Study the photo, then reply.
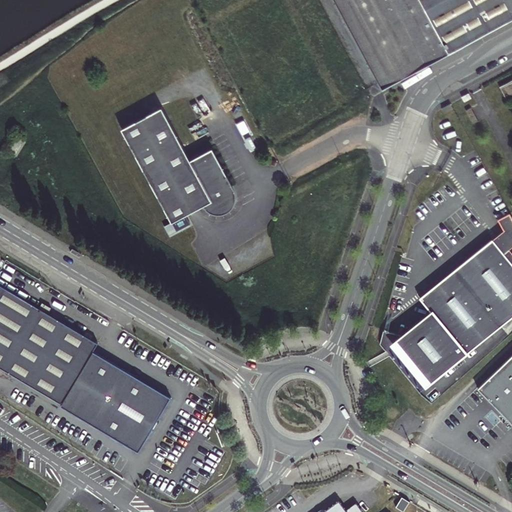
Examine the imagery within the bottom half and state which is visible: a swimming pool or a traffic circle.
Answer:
traffic circle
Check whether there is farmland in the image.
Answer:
No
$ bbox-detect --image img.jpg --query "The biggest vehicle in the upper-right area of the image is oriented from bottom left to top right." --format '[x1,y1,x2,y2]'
[403,68,431,88]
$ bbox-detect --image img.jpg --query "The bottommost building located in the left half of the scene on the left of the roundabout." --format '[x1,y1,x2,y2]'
[61,354,170,452]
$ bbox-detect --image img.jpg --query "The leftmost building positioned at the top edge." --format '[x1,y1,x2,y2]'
[335,0,448,90]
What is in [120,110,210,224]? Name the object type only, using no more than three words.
building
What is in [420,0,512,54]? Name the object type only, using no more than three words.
building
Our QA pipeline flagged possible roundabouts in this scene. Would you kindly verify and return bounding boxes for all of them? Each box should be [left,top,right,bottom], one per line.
[248,353,355,464]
